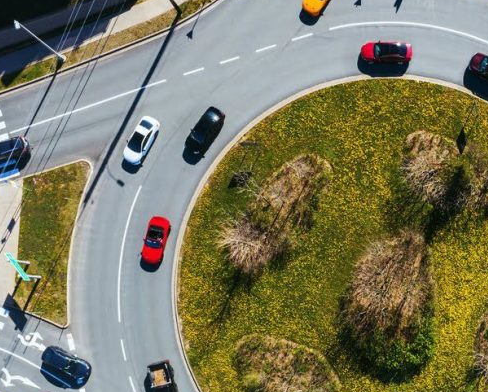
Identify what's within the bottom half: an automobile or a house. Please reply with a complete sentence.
You can see an automobile within the bottom half.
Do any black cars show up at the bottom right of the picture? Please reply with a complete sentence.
No, no black car is visible at the bottom right of the picture.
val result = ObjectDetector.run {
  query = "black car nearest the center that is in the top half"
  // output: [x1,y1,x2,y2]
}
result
[188,107,225,153]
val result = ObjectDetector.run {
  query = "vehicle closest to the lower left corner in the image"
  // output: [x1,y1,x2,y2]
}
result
[41,347,92,381]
